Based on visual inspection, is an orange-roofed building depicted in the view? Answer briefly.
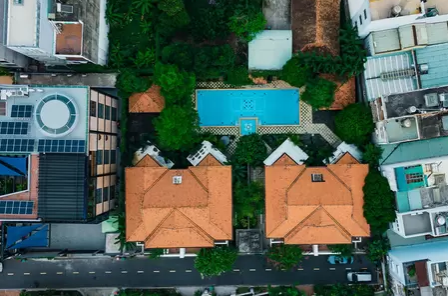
Yes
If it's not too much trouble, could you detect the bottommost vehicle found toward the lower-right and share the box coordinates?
[347,269,374,283]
